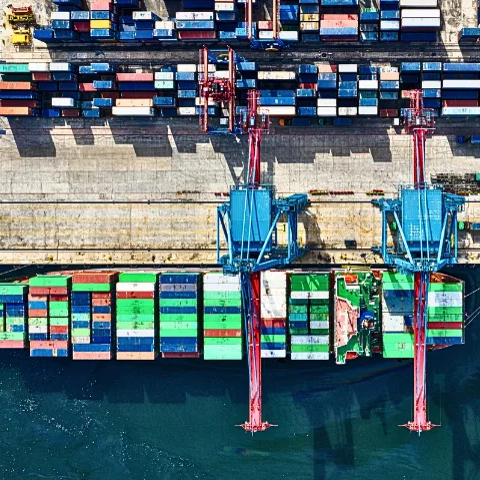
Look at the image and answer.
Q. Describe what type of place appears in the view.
port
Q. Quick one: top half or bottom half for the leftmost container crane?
top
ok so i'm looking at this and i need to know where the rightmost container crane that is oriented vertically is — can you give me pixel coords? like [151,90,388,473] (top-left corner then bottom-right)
[367,89,467,434]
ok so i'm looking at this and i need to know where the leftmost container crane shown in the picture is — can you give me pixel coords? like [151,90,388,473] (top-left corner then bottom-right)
[201,48,252,135]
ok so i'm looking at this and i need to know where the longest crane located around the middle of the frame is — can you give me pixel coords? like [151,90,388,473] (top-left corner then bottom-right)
[216,89,316,434]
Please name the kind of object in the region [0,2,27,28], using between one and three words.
work vehicle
